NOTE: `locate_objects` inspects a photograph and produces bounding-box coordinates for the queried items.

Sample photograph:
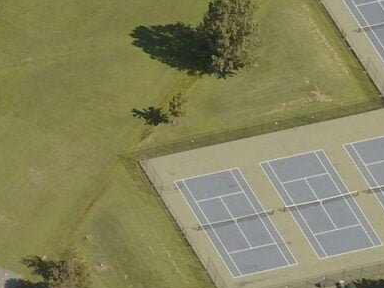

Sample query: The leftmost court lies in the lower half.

[175,167,298,277]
